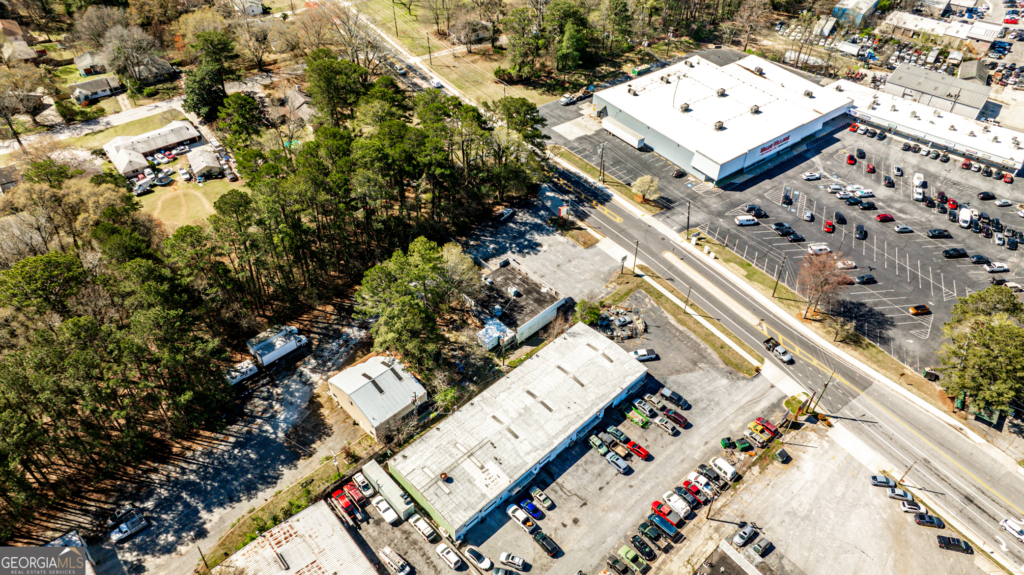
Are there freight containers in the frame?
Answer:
Yes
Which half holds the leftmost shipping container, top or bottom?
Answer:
bottom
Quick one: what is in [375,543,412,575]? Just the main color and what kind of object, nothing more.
white van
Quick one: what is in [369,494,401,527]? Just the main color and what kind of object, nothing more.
white truck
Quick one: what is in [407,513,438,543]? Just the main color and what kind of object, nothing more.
white car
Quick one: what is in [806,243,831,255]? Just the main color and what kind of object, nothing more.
white vehicle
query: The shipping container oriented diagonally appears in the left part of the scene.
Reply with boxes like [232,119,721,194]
[361,456,416,522]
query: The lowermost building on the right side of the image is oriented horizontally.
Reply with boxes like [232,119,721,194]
[694,536,777,575]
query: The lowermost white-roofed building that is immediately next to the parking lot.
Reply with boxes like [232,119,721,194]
[388,322,651,543]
